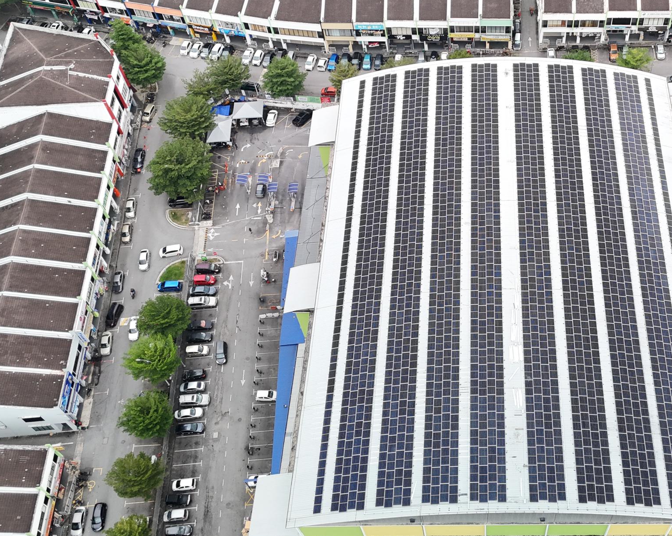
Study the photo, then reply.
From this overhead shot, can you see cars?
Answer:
Yes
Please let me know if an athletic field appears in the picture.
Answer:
No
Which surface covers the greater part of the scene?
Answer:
buildings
